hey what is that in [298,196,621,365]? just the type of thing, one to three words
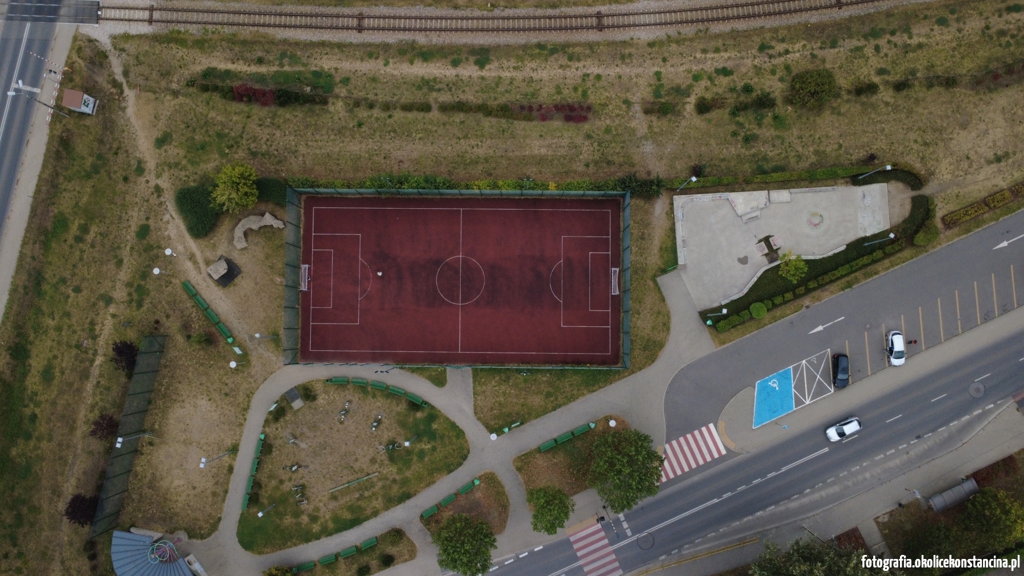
sports field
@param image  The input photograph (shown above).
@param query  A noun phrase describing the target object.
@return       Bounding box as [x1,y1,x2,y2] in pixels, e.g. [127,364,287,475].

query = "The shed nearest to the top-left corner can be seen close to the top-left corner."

[62,89,100,115]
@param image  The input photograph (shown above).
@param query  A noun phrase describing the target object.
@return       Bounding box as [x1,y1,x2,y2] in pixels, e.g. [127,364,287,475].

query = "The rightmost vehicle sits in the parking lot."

[881,331,908,366]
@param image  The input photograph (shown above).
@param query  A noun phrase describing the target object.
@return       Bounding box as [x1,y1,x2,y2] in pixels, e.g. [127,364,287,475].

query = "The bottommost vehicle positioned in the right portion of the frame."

[826,416,863,441]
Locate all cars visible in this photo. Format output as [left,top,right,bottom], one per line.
[881,331,908,366]
[826,416,863,441]
[831,354,852,388]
